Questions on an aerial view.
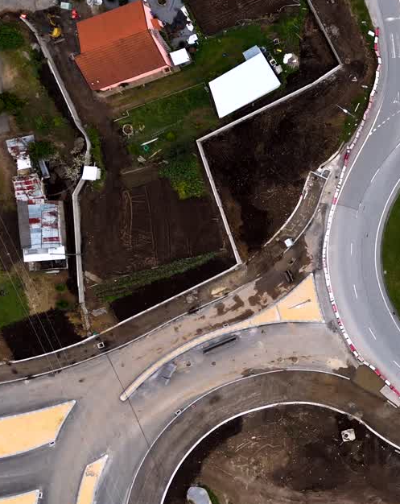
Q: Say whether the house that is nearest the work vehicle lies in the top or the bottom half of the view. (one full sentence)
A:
It is in the top half that the house that is nearest the work vehicle appears.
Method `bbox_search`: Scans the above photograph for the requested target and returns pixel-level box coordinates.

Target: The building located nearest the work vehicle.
[75,0,177,92]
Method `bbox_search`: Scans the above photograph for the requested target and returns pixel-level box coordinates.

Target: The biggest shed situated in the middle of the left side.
[17,199,72,248]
